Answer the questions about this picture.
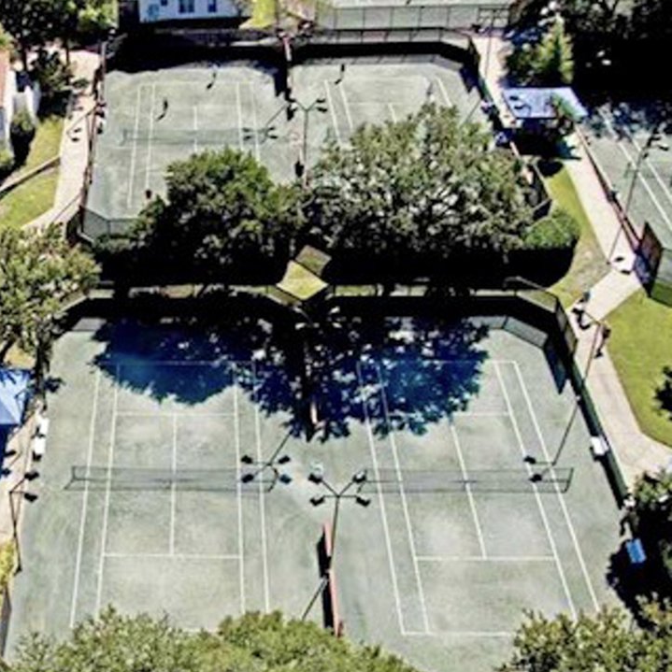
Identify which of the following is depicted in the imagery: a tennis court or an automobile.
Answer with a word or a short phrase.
tennis court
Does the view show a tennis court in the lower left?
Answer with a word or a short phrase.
Yes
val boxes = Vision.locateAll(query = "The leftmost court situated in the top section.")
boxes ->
[82,56,302,244]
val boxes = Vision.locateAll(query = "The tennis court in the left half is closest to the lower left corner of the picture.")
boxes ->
[8,316,332,672]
